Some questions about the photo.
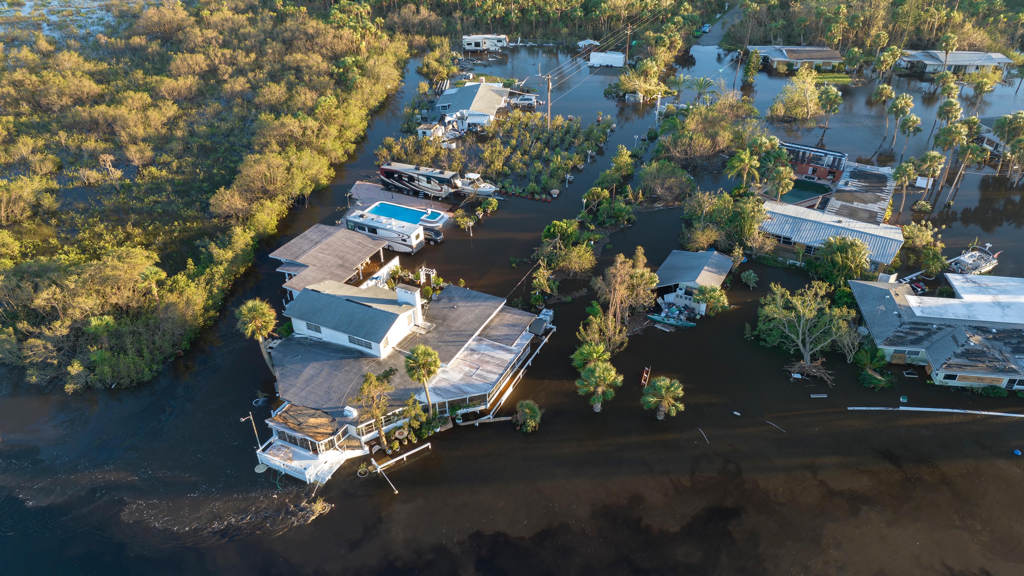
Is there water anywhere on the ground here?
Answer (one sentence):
Yes, the picture does contain water.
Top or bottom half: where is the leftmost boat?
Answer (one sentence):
The leftmost boat sits in the top half of the picture.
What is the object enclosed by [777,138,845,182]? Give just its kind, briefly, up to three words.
house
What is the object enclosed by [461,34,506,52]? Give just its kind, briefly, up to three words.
camper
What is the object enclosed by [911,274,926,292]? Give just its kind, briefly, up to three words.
boat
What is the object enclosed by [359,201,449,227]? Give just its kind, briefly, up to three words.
swimming pool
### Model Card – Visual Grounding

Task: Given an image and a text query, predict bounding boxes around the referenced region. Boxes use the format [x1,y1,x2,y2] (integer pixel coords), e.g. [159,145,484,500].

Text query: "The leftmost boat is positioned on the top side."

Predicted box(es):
[459,175,499,196]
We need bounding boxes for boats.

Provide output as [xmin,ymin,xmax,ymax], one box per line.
[957,243,1002,275]
[911,274,926,292]
[647,313,697,327]
[459,175,499,196]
